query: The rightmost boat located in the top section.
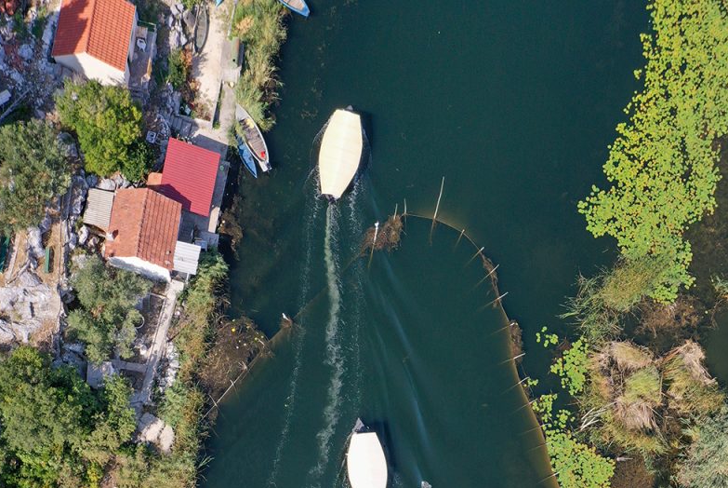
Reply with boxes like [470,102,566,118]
[319,104,363,210]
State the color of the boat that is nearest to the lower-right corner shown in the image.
white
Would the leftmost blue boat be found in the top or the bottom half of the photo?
top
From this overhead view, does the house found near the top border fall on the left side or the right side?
left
